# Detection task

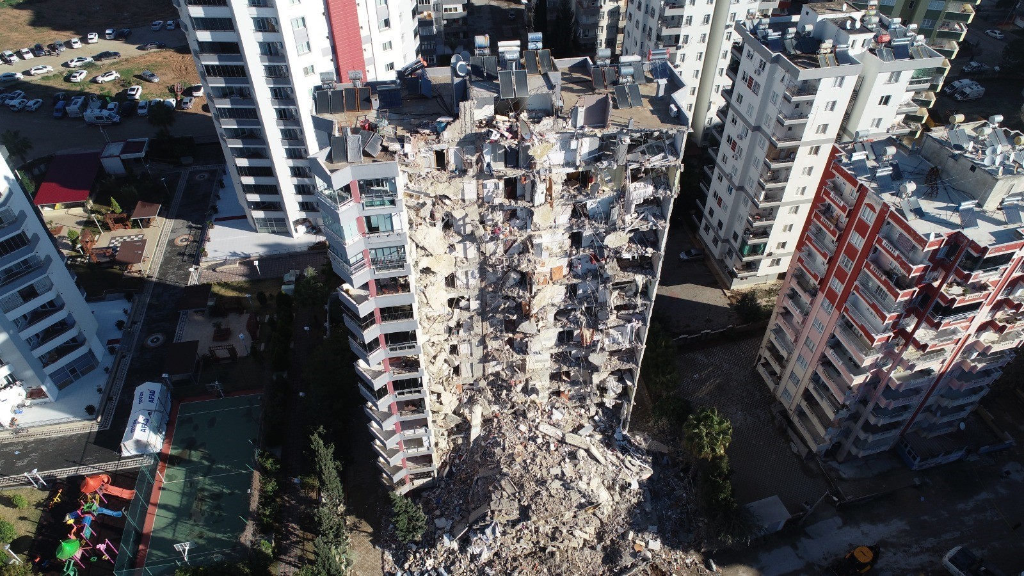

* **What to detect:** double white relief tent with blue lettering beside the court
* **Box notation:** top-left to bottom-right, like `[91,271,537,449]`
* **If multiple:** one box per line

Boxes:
[110,372,179,460]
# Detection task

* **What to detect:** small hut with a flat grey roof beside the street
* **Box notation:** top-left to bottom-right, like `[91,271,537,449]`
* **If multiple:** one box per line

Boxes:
[742,496,792,544]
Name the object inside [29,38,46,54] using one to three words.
car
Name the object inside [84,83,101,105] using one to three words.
vehicle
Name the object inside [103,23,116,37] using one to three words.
vehicle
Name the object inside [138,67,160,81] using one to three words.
car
